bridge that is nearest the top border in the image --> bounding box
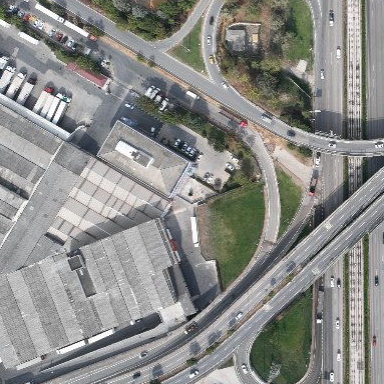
[289,128,384,158]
